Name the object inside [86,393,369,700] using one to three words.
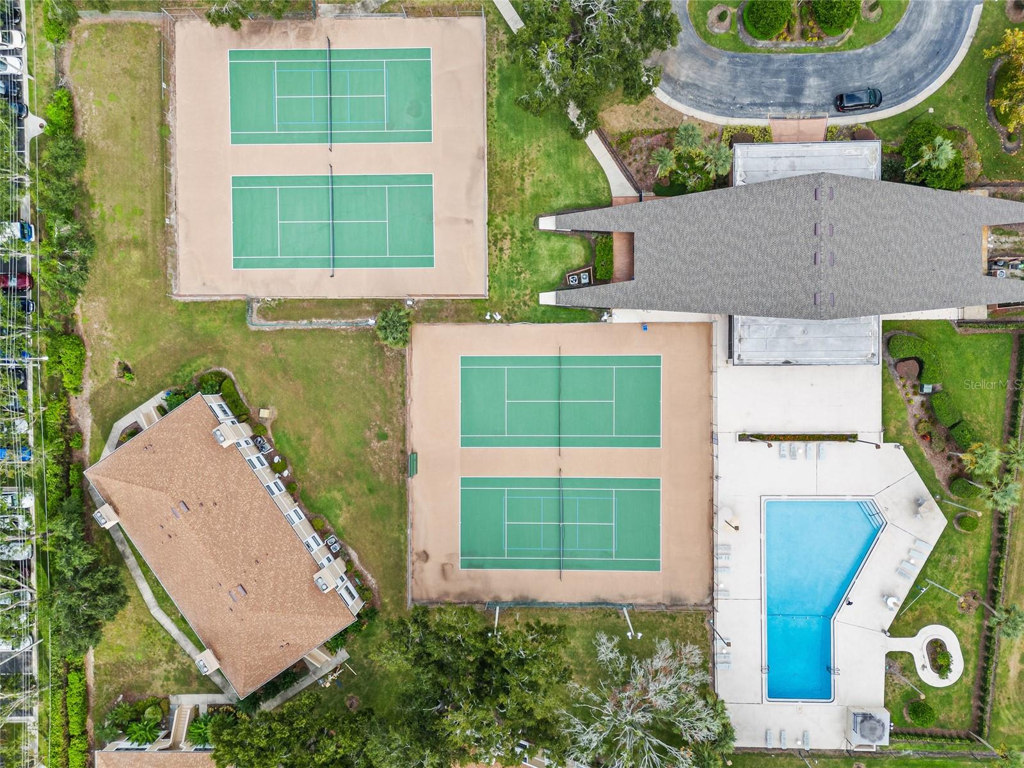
house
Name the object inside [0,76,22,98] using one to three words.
car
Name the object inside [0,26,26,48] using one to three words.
car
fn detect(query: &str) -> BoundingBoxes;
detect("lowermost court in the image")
[458,469,663,581]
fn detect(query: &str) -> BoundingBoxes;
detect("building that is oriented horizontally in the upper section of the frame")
[542,140,1024,365]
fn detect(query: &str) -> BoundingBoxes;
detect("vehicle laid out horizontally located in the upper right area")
[837,85,884,111]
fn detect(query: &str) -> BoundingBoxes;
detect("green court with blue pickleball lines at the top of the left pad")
[228,38,433,151]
